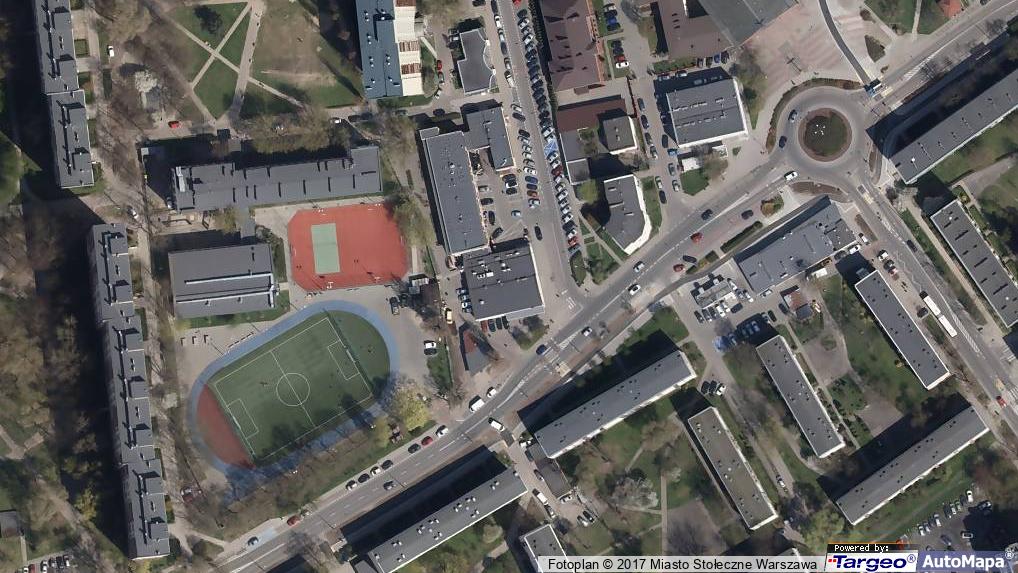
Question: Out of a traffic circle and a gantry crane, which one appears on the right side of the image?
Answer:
traffic circle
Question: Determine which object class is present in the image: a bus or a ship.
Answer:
bus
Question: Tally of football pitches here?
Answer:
1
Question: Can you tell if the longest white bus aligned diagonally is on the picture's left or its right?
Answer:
right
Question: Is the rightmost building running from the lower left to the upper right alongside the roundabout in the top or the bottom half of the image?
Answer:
top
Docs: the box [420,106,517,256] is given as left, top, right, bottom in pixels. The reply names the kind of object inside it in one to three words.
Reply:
building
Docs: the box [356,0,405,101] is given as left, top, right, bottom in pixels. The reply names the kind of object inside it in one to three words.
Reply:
building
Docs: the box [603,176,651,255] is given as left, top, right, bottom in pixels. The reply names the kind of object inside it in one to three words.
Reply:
house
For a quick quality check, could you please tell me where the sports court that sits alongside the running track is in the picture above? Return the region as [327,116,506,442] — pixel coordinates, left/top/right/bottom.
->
[288,203,406,291]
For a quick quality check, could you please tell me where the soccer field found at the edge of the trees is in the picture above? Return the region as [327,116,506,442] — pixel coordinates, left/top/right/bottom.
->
[187,296,402,506]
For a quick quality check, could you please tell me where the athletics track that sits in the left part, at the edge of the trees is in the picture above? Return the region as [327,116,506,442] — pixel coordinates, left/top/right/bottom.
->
[187,296,402,481]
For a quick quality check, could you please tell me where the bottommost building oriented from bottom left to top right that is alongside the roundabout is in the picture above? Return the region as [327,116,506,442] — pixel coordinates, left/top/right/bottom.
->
[739,203,857,297]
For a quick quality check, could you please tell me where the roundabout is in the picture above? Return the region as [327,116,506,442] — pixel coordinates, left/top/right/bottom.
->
[776,86,874,183]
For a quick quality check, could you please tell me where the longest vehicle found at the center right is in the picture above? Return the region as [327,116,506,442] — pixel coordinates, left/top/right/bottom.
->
[921,291,957,337]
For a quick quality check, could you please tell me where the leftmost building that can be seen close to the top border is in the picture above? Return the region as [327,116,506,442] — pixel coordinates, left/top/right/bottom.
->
[33,0,98,193]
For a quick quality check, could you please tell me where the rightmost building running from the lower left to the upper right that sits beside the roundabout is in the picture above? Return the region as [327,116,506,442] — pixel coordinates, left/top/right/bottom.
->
[891,71,1018,187]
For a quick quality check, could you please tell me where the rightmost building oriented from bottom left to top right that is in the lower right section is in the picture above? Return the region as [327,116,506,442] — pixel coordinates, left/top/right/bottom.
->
[836,406,990,528]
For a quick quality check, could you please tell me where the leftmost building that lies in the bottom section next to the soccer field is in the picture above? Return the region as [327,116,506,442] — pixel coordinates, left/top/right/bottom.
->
[90,222,175,561]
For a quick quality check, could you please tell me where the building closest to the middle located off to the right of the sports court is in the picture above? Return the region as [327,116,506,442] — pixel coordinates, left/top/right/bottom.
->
[462,243,546,322]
